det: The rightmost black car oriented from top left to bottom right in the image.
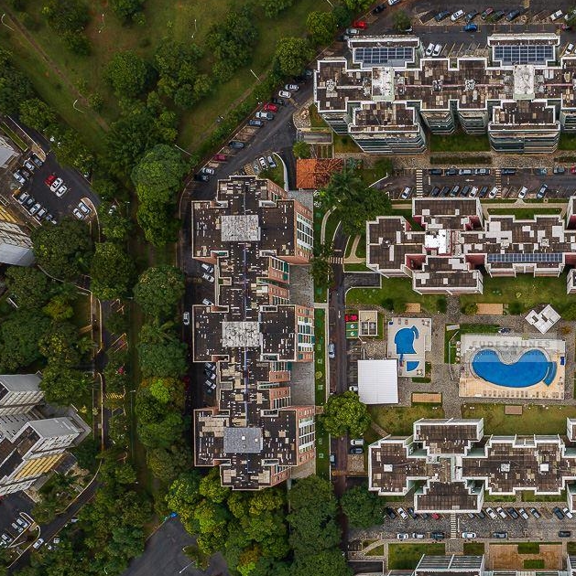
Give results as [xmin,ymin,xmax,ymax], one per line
[550,505,564,520]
